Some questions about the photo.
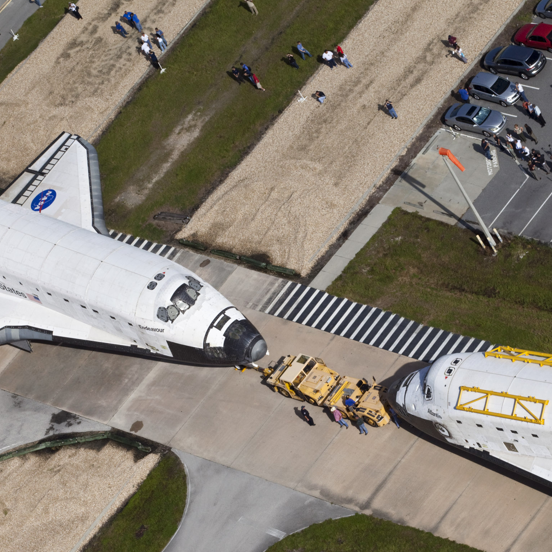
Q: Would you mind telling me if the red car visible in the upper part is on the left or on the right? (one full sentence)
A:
It is on the right.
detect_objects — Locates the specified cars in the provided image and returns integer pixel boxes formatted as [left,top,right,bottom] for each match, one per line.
[443,102,509,138]
[509,17,552,53]
[481,42,545,81]
[530,0,552,18]
[464,71,523,107]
